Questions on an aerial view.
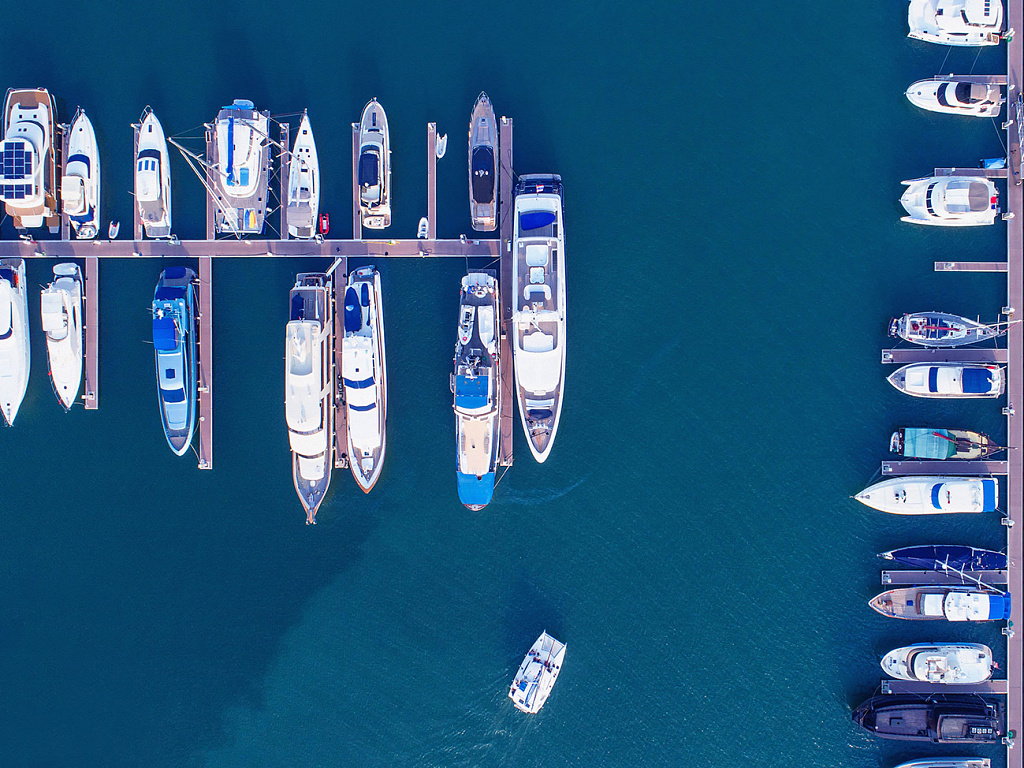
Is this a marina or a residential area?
marina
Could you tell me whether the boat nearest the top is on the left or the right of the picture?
right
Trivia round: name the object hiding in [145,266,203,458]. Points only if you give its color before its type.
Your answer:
blue boat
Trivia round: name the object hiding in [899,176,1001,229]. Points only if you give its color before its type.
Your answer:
white boat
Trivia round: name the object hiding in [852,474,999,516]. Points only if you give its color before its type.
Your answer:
white boat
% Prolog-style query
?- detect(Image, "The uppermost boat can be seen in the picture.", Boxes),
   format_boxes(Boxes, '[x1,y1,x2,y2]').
[908,0,1000,49]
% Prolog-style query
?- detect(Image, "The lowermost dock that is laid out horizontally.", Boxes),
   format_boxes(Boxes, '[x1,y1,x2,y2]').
[880,680,1007,694]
